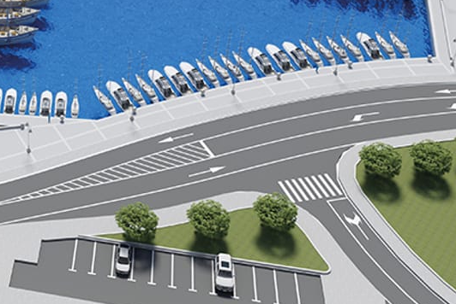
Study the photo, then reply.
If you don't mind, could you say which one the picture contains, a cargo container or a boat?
boat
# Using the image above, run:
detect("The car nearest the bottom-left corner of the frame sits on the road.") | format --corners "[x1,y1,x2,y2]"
[116,245,132,275]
